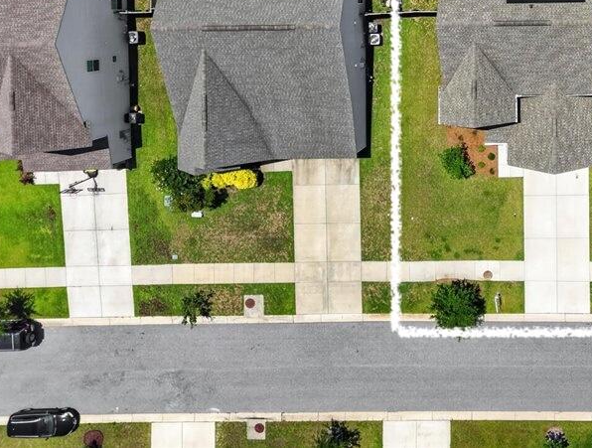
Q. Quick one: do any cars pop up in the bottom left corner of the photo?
Yes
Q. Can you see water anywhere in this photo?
No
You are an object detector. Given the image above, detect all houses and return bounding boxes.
[0,0,131,170]
[437,0,592,169]
[156,0,366,175]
